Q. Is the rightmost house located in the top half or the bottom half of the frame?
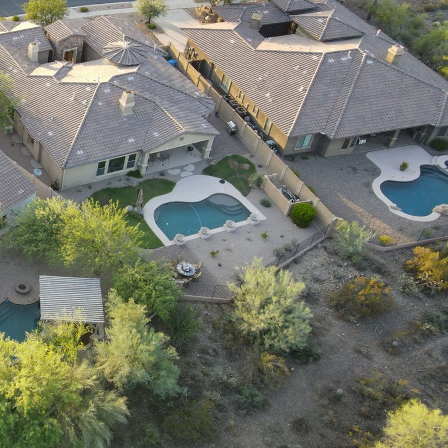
top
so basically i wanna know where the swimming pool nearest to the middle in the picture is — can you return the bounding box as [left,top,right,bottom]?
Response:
[144,174,265,247]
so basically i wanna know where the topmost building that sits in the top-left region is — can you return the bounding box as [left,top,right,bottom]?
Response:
[0,13,222,185]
